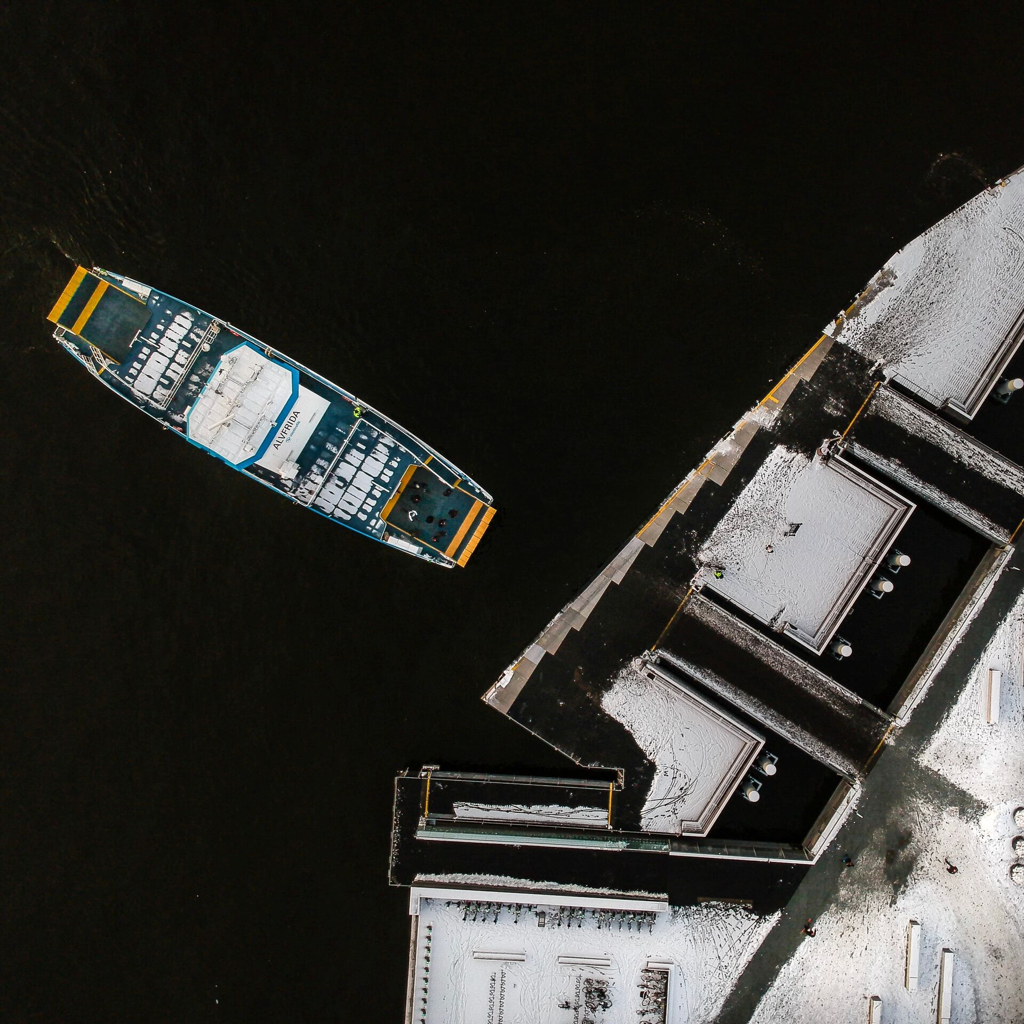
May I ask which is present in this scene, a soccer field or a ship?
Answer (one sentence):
Visible in the photo is a ship.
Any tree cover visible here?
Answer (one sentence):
No, the scene doesn't show any tree cover.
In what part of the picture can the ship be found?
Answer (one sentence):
The ship appears toward the left of the photo.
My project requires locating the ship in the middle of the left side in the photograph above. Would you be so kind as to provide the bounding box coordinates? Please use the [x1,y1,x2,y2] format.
[47,264,497,568]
